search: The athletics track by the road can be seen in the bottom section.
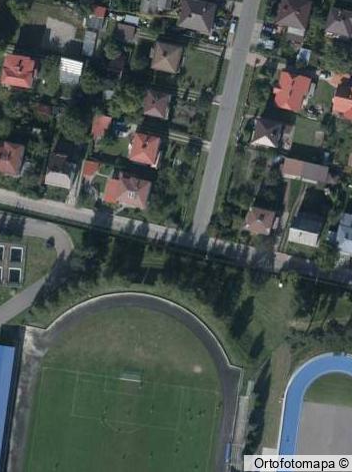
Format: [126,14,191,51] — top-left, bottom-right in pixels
[4,291,243,472]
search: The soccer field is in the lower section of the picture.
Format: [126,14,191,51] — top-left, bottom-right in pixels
[27,306,225,472]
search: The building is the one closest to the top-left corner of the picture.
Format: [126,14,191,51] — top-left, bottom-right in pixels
[1,54,38,91]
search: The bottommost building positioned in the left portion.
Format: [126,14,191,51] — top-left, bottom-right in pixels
[103,174,152,212]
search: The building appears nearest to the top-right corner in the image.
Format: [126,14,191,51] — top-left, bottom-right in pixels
[325,5,352,41]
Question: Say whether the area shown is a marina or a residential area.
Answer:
residential area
